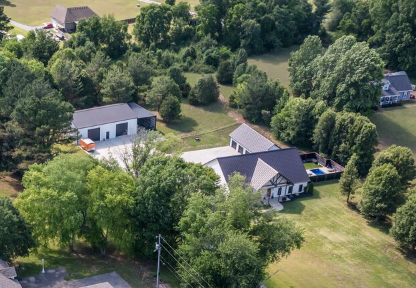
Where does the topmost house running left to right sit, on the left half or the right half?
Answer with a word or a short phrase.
left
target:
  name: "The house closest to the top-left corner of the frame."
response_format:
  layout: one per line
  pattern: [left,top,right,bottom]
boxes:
[47,5,100,31]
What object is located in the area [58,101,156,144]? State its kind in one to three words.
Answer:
building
